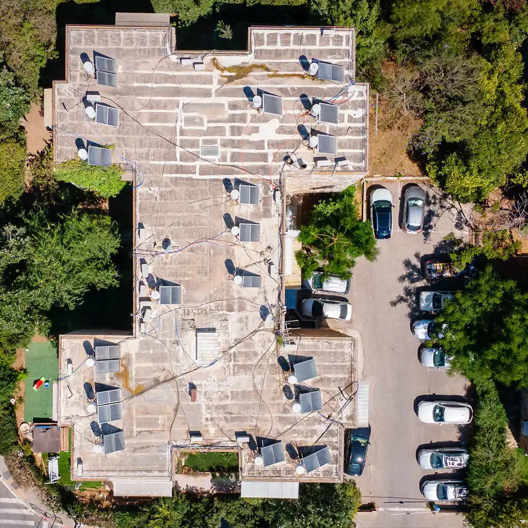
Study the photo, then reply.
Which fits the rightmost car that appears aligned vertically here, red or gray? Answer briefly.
gray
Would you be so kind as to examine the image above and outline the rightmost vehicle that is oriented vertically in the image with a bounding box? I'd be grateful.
[400,185,424,235]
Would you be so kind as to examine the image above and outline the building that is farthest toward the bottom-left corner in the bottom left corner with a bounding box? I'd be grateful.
[34,420,64,452]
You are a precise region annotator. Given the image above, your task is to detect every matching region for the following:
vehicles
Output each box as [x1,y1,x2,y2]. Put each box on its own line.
[418,346,475,370]
[415,400,475,428]
[299,296,354,322]
[301,272,352,295]
[400,185,424,235]
[417,288,473,314]
[411,317,460,343]
[416,448,473,474]
[344,428,372,478]
[369,188,396,240]
[420,479,476,505]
